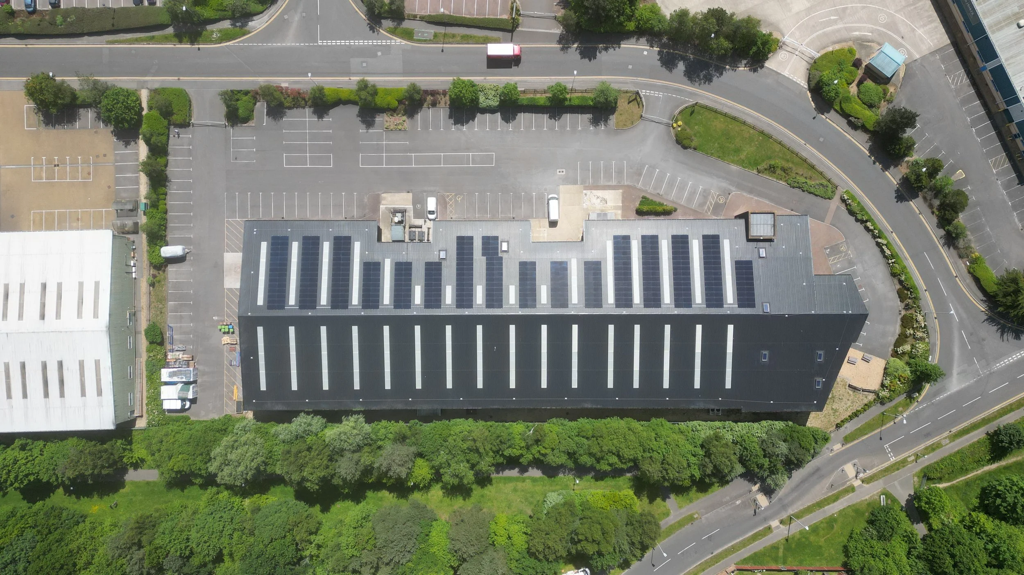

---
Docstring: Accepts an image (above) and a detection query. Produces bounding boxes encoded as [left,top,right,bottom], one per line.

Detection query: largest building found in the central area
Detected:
[238,211,868,419]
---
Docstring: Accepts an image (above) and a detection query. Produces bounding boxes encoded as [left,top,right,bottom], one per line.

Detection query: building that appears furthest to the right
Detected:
[944,0,1024,162]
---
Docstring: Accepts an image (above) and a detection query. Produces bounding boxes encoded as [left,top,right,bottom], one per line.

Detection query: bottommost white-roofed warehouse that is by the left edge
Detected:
[0,229,135,432]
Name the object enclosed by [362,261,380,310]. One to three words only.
solar array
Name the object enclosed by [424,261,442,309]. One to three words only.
solar array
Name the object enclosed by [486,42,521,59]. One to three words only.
vehicle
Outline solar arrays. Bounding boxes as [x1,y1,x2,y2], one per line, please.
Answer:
[671,234,692,309]
[299,235,320,310]
[703,234,723,309]
[424,261,442,309]
[735,259,755,309]
[519,261,536,309]
[393,261,412,310]
[267,236,288,310]
[330,235,351,310]
[641,235,661,309]
[584,260,602,309]
[456,236,473,309]
[550,261,568,309]
[613,234,632,309]
[362,261,380,310]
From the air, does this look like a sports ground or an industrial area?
industrial area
